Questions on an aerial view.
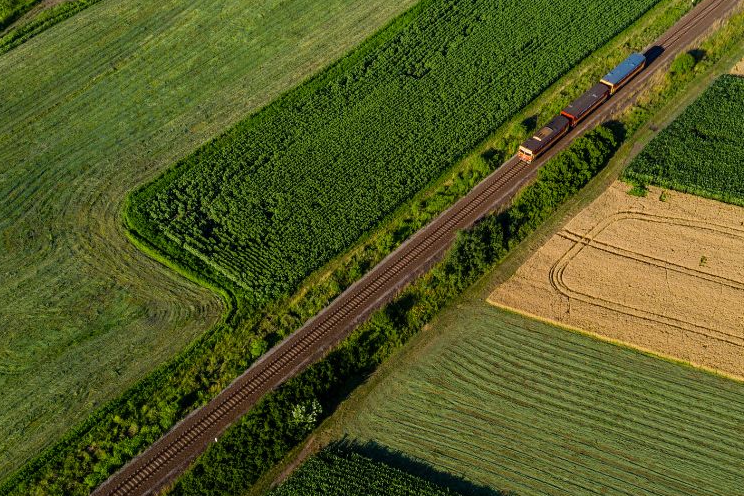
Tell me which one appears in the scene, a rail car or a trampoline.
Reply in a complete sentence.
Looking from above, you can make out a rail car.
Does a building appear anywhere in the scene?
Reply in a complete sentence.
No, the picture doesn't show any building.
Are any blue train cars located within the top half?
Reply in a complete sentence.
Yes, the scene does show a blue train car within the top half.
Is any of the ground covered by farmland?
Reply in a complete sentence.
Yes, there's farmland in this view.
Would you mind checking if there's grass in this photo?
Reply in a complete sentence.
Yes, there is grass in the image.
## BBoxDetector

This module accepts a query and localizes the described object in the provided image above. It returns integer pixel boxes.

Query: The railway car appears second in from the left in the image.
[562,81,610,127]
